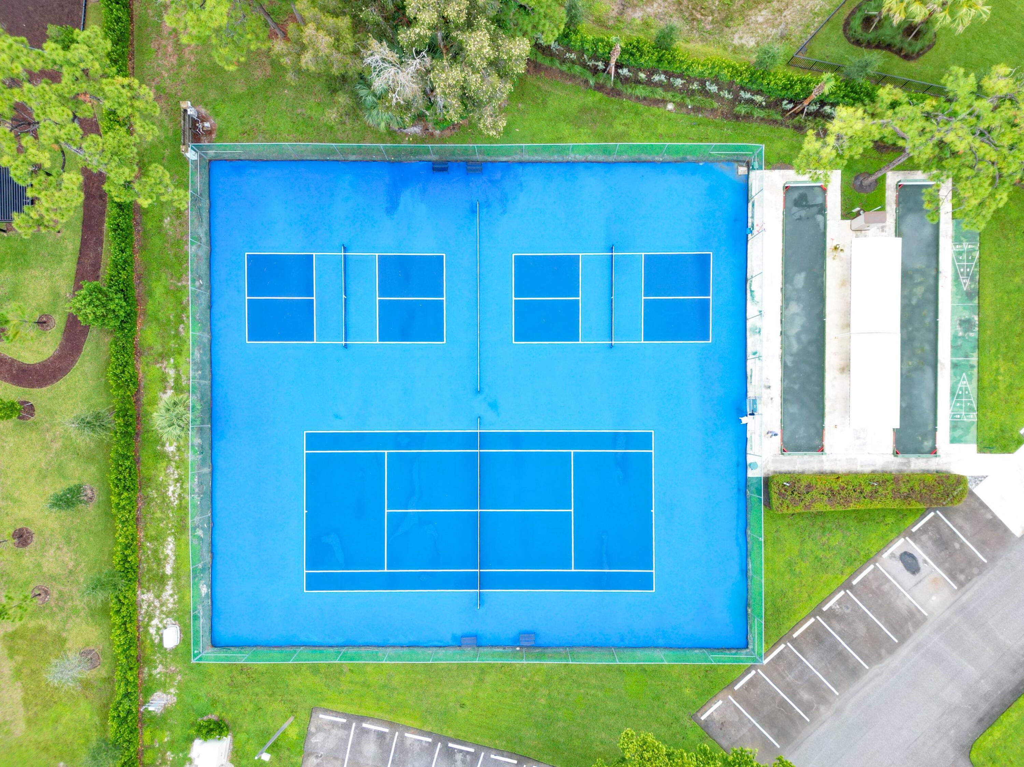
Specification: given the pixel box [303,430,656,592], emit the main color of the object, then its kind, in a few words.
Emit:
blue tennis court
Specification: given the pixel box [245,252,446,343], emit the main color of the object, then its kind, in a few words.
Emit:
blue sports court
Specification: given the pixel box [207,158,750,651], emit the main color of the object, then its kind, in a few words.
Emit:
blue sports court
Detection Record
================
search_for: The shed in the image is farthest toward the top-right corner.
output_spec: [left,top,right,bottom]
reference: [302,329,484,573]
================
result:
[851,211,888,230]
